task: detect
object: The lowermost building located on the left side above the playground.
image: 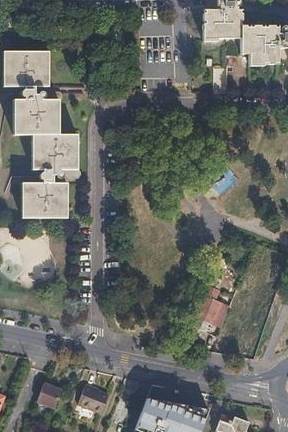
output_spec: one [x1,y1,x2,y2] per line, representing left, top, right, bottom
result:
[22,170,70,218]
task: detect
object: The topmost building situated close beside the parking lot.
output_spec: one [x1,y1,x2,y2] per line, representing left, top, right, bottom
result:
[202,0,244,42]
